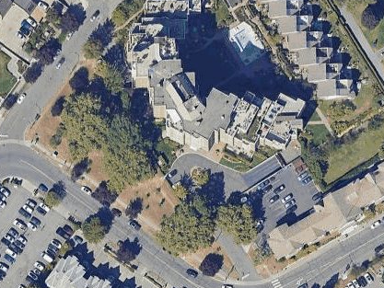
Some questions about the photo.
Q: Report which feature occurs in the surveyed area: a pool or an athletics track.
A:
pool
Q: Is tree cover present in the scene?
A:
Yes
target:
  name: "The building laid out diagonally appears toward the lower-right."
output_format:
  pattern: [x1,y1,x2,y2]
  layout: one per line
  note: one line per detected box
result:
[269,161,384,262]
